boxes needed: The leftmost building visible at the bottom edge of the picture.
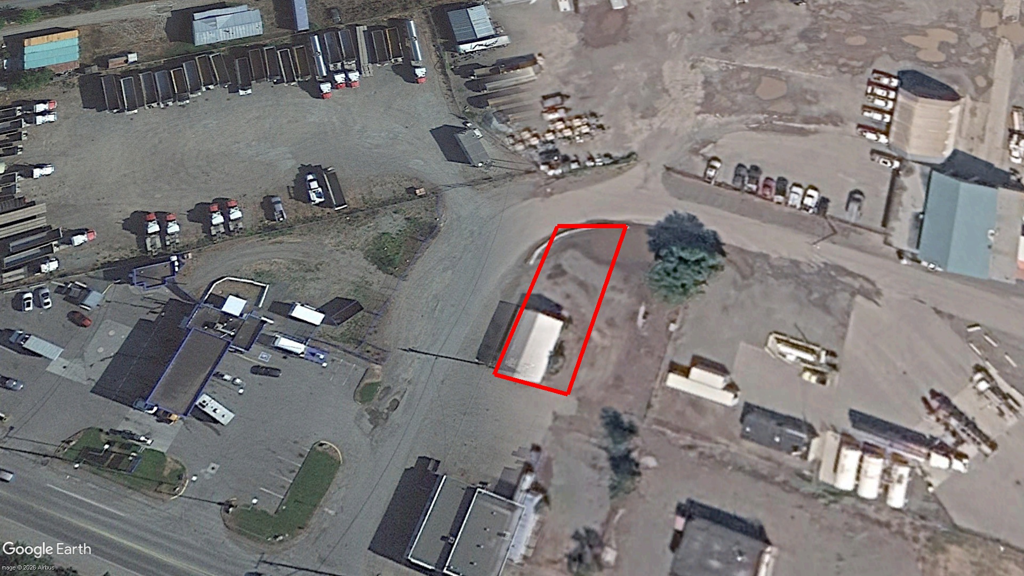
[409,475,477,570]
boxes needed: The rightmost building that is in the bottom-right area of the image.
[740,411,812,455]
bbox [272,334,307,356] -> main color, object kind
white truck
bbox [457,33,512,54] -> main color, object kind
white trailer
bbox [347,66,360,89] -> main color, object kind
white vehicle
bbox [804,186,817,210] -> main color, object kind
white vehicle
